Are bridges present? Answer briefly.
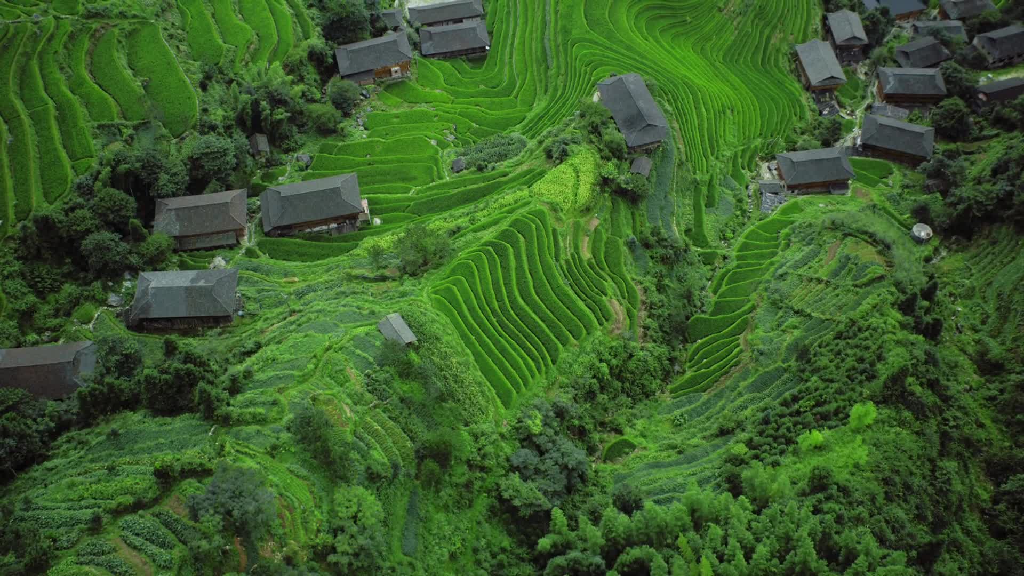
No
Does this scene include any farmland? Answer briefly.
Yes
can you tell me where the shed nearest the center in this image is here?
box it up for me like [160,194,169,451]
[378,312,416,358]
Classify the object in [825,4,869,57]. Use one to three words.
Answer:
house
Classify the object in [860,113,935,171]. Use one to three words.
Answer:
house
